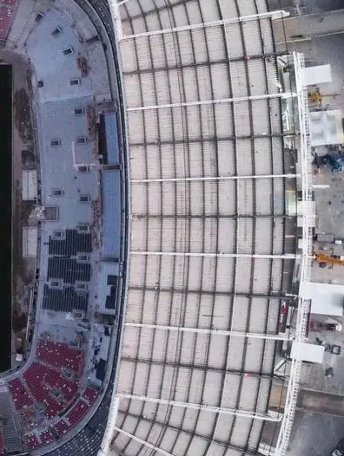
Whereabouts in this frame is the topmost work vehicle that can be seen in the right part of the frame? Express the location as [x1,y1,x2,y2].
[308,85,342,110]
